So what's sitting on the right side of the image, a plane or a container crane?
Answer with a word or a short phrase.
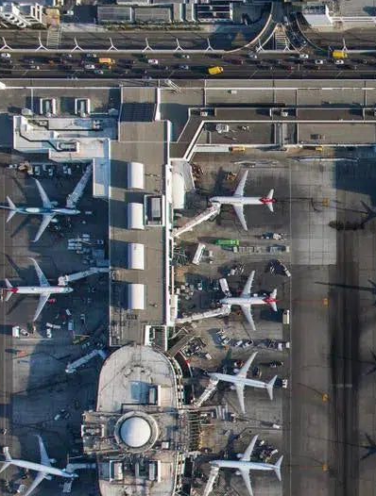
plane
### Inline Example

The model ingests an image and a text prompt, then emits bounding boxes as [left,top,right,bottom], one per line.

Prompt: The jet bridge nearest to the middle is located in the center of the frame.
[176,197,226,238]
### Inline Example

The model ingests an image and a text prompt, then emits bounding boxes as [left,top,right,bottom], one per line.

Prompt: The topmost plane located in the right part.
[210,169,278,230]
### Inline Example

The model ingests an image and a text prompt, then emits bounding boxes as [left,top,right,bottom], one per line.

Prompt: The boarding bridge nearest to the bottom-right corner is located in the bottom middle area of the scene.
[203,461,223,496]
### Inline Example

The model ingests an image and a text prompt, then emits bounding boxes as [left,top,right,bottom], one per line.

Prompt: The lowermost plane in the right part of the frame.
[210,433,282,496]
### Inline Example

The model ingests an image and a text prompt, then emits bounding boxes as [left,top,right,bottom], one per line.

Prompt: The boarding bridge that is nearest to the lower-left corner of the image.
[61,463,97,478]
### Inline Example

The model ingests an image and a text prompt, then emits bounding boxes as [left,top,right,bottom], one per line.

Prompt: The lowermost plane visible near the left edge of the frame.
[0,435,79,496]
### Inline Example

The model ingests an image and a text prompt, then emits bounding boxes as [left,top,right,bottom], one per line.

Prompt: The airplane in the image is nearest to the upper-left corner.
[3,177,81,244]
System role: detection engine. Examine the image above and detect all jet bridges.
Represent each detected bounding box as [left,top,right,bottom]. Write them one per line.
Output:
[176,197,226,238]
[194,372,223,409]
[61,463,97,478]
[53,267,108,286]
[203,461,223,496]
[63,162,92,214]
[176,299,238,326]
[60,347,108,375]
